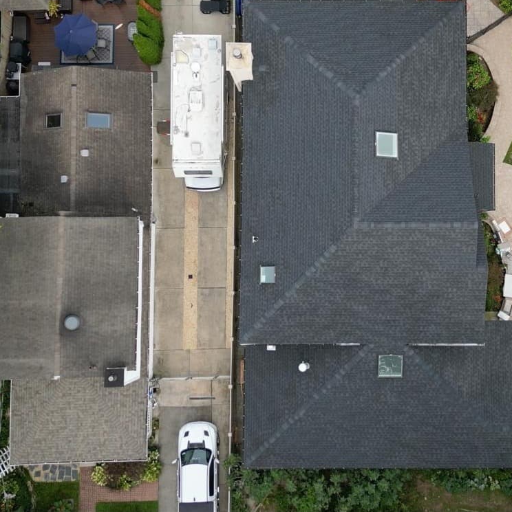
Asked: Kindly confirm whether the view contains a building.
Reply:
Yes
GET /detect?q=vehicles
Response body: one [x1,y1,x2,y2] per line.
[172,419,222,512]
[172,32,230,193]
